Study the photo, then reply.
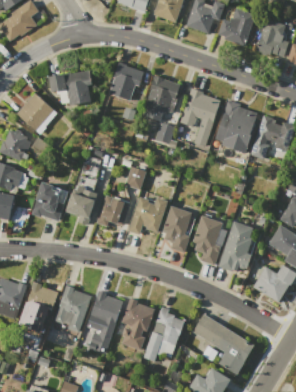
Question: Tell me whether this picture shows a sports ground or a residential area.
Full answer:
The area seen from above is a residential area.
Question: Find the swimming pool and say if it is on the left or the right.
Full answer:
The swimming pool is on the left side of the image.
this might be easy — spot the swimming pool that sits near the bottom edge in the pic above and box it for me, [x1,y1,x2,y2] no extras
[72,366,98,392]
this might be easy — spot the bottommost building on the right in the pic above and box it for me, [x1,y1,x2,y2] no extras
[190,368,231,392]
